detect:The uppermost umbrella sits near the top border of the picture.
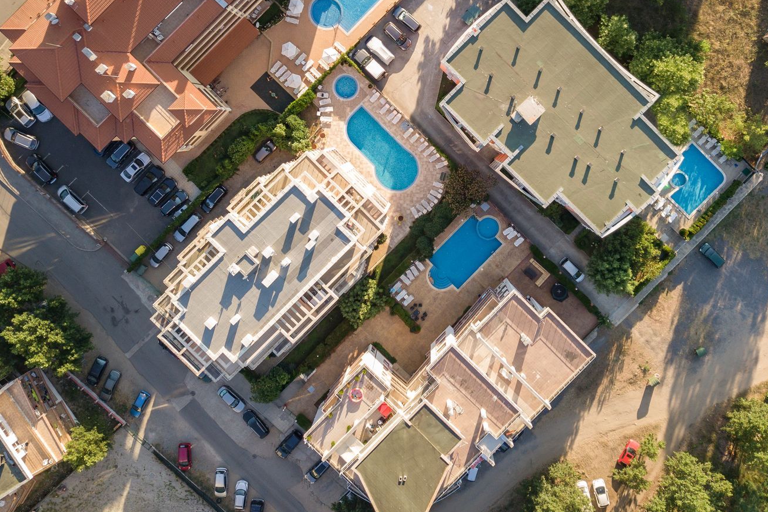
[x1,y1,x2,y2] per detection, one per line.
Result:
[286,0,306,17]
